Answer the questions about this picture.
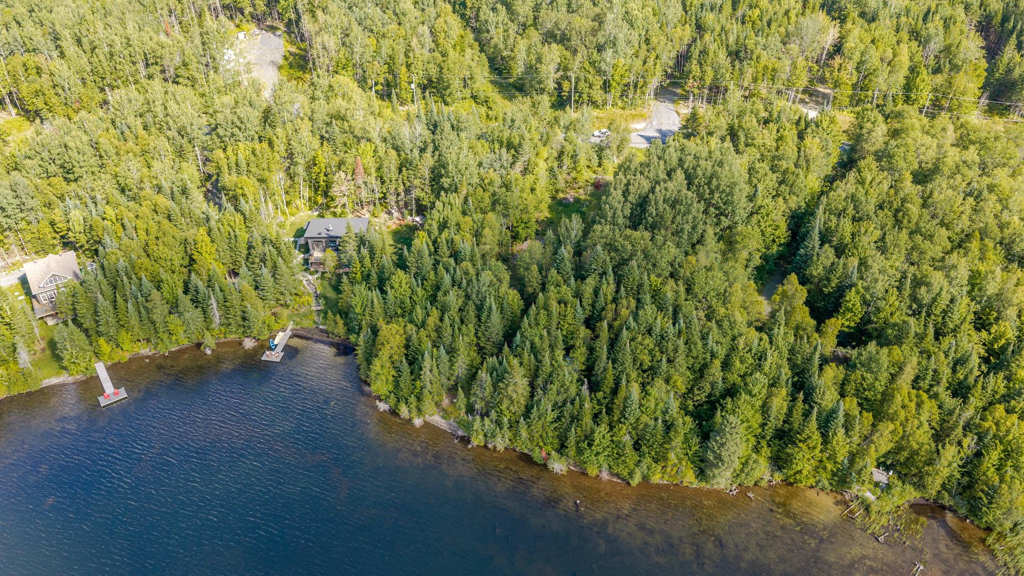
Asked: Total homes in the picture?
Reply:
2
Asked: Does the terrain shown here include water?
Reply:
Yes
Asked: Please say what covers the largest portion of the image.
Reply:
trees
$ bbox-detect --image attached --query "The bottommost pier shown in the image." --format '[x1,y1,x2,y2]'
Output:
[96,362,129,409]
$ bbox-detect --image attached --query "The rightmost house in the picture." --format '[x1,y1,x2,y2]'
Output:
[298,217,370,274]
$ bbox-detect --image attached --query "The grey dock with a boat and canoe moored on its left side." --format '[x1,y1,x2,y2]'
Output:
[260,322,293,363]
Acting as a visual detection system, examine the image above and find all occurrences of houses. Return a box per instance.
[22,249,101,328]
[298,217,370,274]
